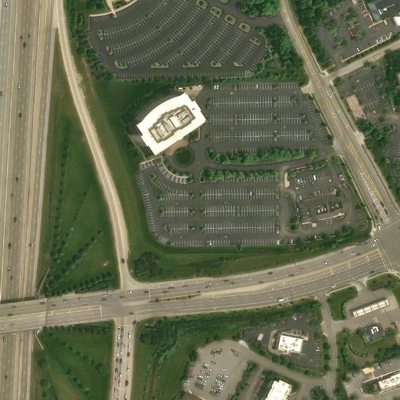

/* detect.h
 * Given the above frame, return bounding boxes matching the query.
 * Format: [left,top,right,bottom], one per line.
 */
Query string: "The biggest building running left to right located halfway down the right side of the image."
[300,201,345,224]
